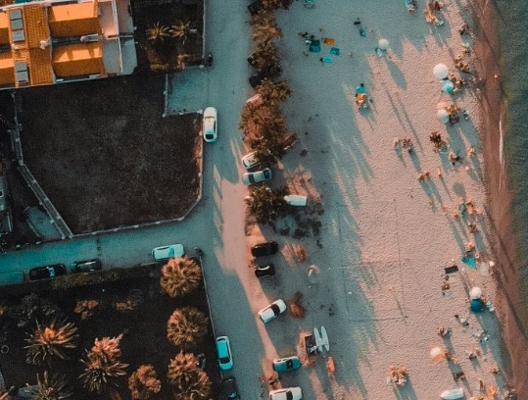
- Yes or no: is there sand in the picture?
Yes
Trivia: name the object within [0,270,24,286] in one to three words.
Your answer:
car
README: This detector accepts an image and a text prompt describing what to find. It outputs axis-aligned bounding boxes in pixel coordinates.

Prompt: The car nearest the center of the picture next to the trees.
[243,168,272,185]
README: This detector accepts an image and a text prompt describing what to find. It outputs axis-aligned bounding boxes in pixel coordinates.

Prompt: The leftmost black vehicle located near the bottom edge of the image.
[223,378,240,400]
